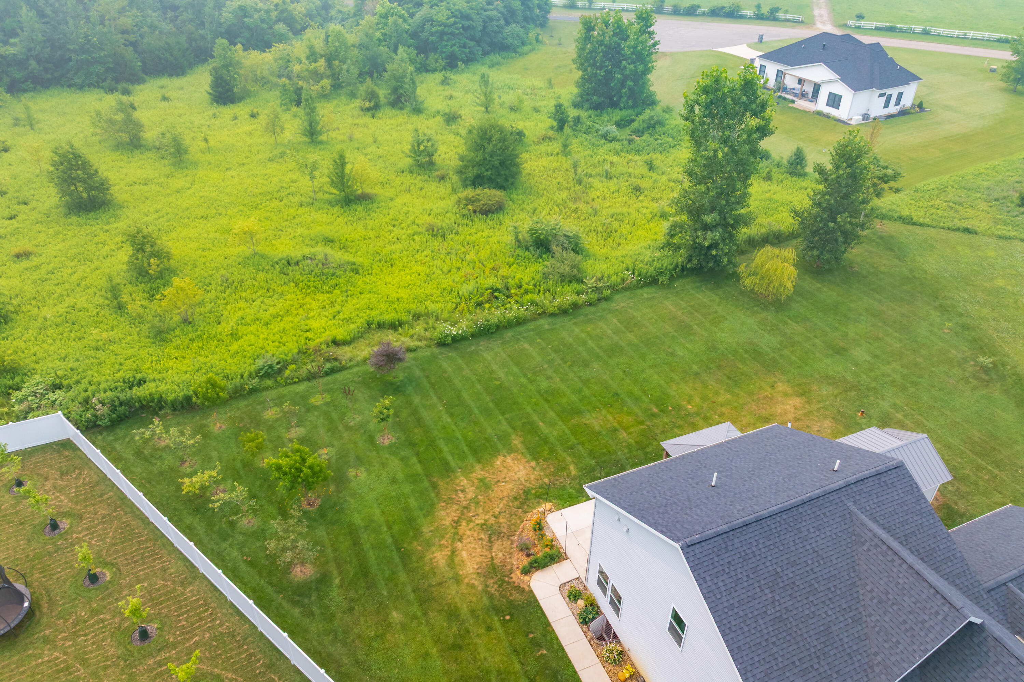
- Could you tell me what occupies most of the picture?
grass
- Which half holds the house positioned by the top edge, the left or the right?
right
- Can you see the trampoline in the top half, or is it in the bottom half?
bottom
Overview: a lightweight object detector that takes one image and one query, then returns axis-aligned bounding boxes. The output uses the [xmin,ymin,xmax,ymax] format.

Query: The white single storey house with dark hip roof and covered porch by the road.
[755,33,924,119]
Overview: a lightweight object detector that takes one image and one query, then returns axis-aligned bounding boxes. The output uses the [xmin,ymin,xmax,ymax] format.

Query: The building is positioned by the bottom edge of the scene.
[581,418,1024,682]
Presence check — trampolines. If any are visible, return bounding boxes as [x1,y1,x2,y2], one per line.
[0,565,39,647]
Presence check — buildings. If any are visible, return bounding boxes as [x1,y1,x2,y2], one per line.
[755,33,924,119]
[581,418,1024,682]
